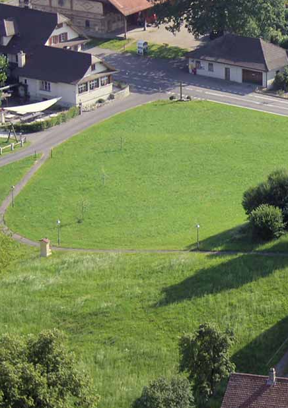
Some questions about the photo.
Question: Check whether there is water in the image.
No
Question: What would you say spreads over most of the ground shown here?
grass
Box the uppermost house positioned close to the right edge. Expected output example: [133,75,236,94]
[184,31,288,87]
